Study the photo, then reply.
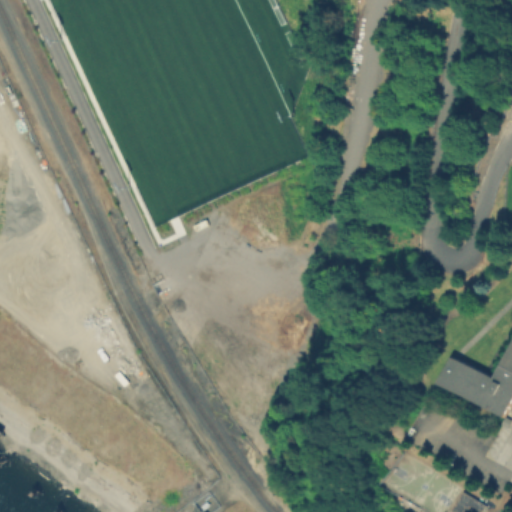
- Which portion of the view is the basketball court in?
bottom right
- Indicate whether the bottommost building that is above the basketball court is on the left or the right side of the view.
right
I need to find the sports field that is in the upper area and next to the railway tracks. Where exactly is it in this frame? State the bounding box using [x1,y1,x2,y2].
[50,0,308,225]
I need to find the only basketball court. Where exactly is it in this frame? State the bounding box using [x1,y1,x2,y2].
[387,454,464,512]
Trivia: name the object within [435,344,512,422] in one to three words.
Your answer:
building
